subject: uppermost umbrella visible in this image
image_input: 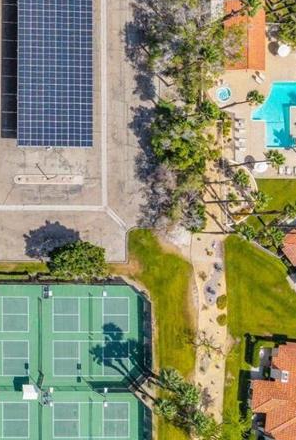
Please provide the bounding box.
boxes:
[275,44,291,57]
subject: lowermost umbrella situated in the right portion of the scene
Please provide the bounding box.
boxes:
[251,161,266,173]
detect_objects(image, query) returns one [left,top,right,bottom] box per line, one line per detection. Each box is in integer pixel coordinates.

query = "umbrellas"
[275,44,291,57]
[251,161,266,173]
